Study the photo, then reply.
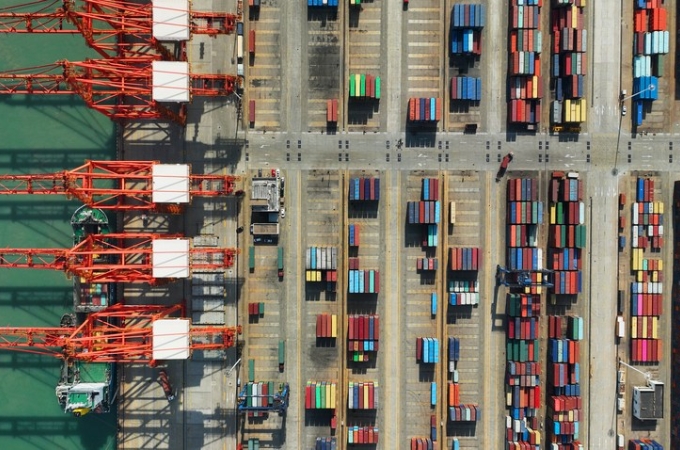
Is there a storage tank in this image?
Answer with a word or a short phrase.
No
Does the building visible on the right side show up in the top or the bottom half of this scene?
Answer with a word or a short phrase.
bottom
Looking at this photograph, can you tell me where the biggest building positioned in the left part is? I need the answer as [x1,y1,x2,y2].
[252,177,281,212]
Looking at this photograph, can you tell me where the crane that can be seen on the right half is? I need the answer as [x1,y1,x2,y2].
[498,265,554,289]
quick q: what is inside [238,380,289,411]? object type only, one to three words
crane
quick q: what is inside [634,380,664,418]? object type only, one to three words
building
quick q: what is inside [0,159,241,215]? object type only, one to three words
container crane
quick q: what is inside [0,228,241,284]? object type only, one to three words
container crane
